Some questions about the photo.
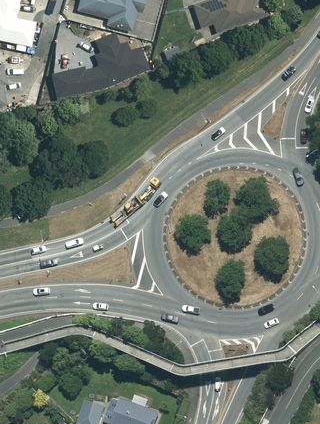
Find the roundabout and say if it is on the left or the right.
right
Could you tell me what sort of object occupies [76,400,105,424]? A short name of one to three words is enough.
building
